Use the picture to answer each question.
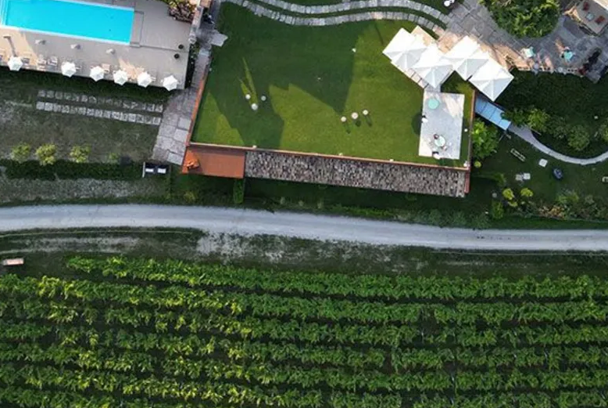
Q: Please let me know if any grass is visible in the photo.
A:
Yes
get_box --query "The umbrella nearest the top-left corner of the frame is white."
[9,55,23,71]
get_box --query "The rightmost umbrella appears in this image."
[469,51,515,101]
